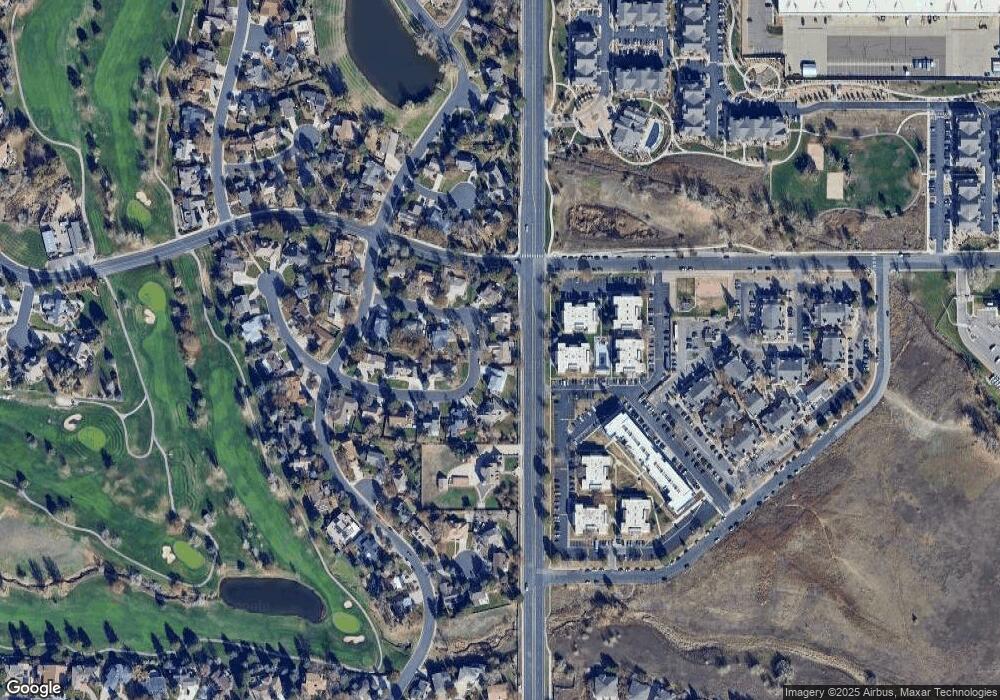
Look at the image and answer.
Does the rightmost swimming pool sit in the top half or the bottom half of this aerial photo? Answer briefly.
top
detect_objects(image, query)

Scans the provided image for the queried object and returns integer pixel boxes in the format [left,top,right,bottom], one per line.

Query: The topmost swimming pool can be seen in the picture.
[640,118,664,151]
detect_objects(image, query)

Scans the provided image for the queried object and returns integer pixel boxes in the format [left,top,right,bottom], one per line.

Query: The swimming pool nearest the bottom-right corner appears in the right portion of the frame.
[595,337,610,370]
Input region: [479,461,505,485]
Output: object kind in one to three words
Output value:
house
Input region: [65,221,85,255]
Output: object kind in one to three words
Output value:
shed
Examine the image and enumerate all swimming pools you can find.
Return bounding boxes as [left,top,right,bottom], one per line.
[640,118,664,151]
[595,337,610,370]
